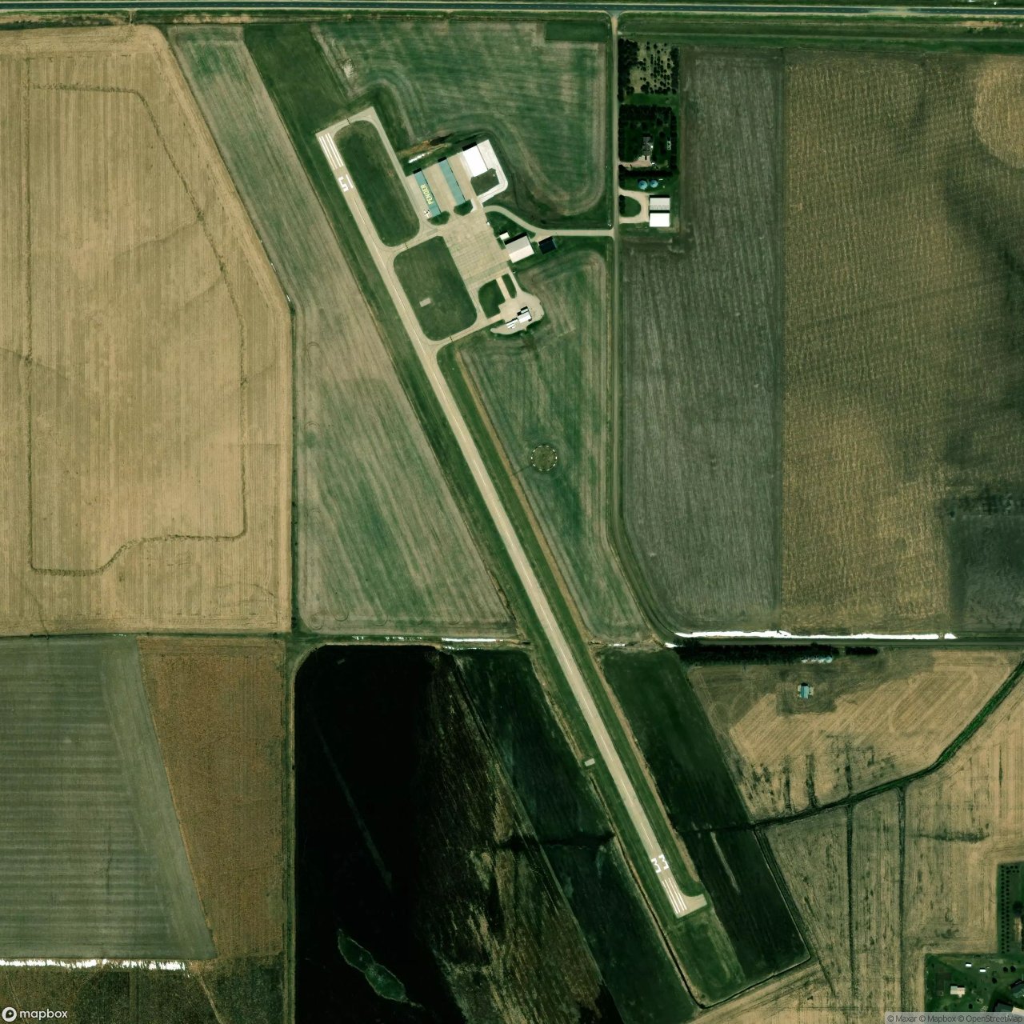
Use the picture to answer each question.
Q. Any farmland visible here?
Yes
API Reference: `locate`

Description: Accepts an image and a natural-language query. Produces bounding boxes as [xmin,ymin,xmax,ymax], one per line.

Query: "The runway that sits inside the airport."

[316,128,707,918]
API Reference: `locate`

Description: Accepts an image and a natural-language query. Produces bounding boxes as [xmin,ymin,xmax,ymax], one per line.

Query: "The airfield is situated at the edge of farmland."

[316,107,707,918]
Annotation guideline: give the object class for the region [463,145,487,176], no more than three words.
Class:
hangar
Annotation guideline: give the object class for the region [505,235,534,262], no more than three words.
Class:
hangar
